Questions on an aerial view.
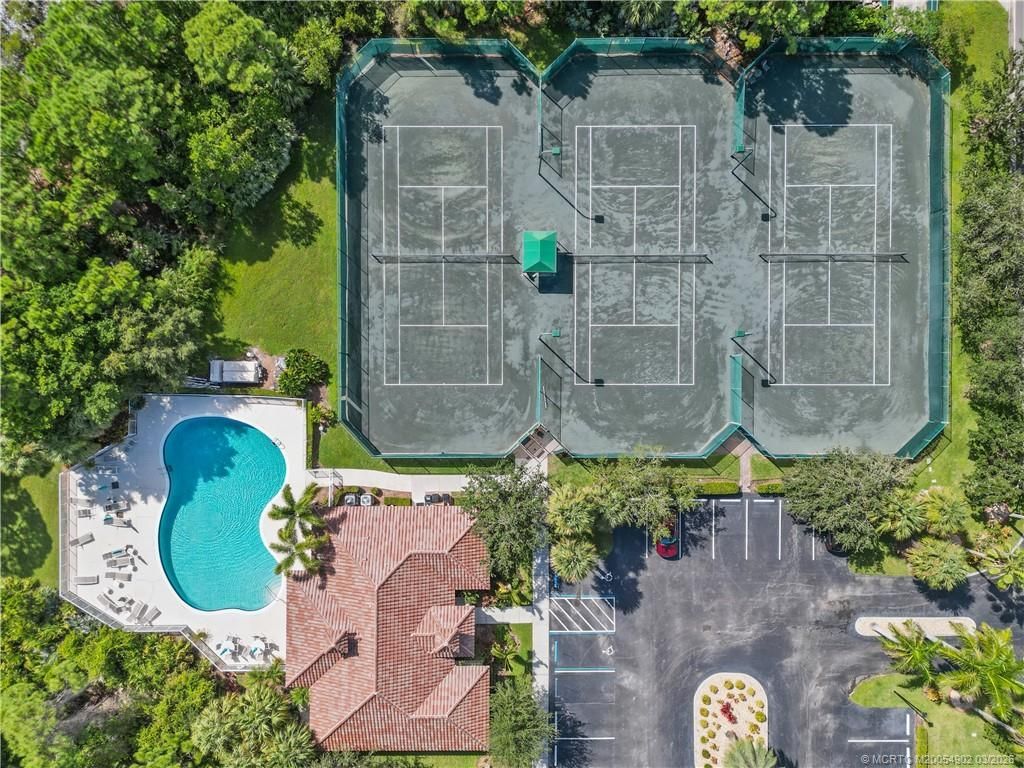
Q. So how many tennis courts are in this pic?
3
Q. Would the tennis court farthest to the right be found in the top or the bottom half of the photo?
top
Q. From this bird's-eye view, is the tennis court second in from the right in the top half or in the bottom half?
top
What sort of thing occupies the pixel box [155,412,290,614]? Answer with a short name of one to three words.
swimming pool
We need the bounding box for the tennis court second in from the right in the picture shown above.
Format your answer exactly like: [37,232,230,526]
[539,55,732,454]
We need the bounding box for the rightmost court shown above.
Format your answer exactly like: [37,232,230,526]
[731,55,928,454]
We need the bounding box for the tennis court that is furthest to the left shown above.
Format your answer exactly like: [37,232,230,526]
[345,55,540,453]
